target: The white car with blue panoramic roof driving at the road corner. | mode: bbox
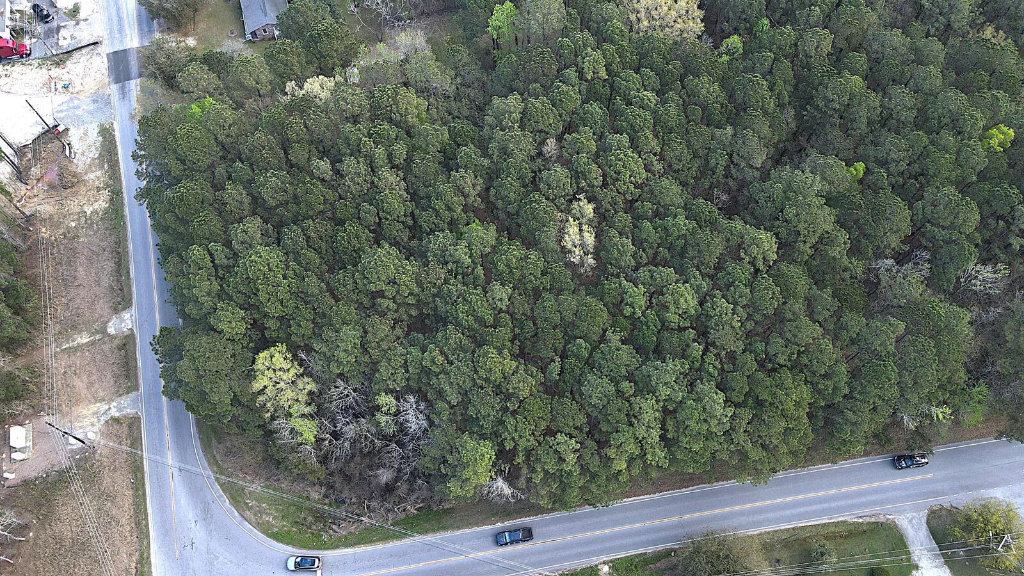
[290,554,324,572]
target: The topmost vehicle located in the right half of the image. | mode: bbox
[893,451,930,470]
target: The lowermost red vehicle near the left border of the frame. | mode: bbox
[0,37,31,61]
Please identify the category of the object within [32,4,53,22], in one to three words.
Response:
car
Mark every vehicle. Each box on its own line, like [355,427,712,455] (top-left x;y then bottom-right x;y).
[290,554,324,572]
[0,37,31,61]
[893,451,930,470]
[496,526,533,547]
[32,4,53,22]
